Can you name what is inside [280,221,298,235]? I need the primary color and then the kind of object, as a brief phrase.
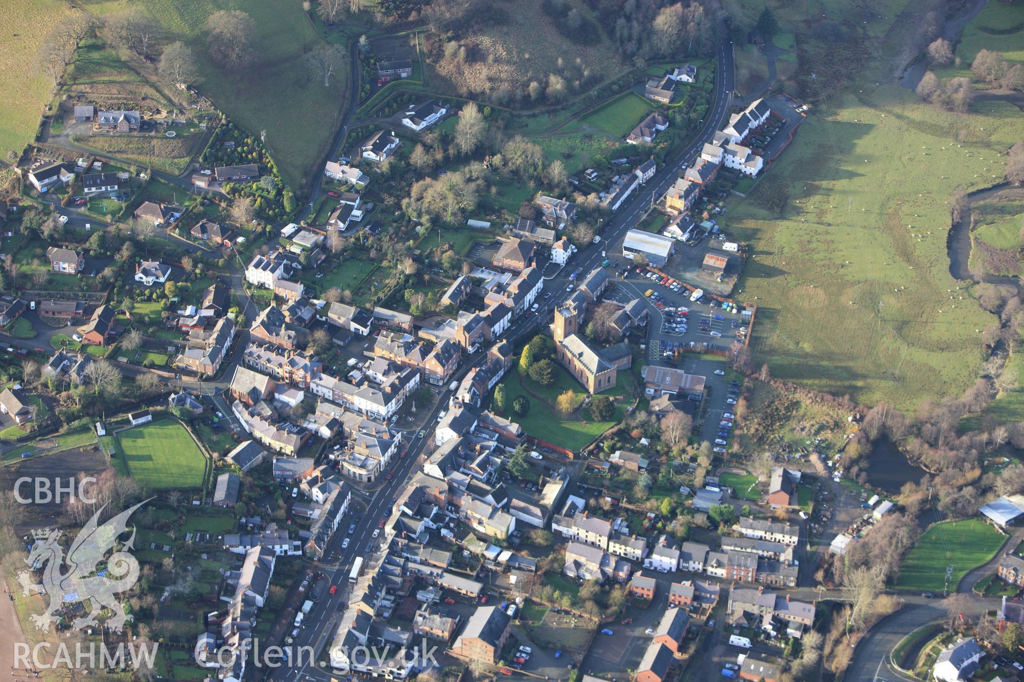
white vehicle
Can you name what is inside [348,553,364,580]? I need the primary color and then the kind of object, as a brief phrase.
white vehicle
